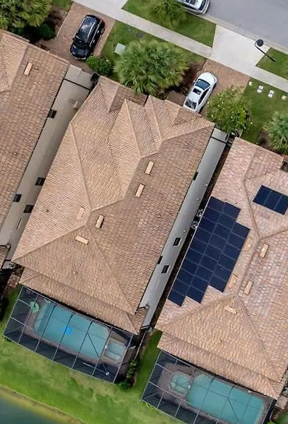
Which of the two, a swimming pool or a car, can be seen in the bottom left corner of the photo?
swimming pool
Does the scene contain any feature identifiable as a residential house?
Yes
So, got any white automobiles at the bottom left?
No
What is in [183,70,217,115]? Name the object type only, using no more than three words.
car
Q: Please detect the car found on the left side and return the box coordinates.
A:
[72,11,106,62]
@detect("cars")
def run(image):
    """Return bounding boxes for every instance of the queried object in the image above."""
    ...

[72,11,106,62]
[183,70,217,115]
[186,0,213,18]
